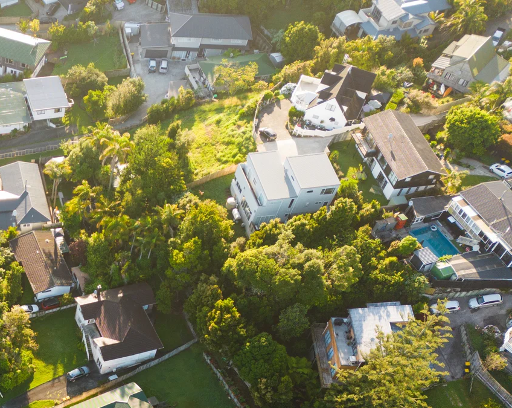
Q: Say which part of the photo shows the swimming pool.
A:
right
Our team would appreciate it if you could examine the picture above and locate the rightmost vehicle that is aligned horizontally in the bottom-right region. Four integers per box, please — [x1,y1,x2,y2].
[473,294,499,308]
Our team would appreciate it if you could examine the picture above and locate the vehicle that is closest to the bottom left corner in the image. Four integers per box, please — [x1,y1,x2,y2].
[65,366,91,382]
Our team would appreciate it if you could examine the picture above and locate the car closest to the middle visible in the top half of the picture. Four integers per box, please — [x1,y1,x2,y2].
[258,129,278,142]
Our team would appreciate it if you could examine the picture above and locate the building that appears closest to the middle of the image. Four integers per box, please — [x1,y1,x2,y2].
[232,151,340,223]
